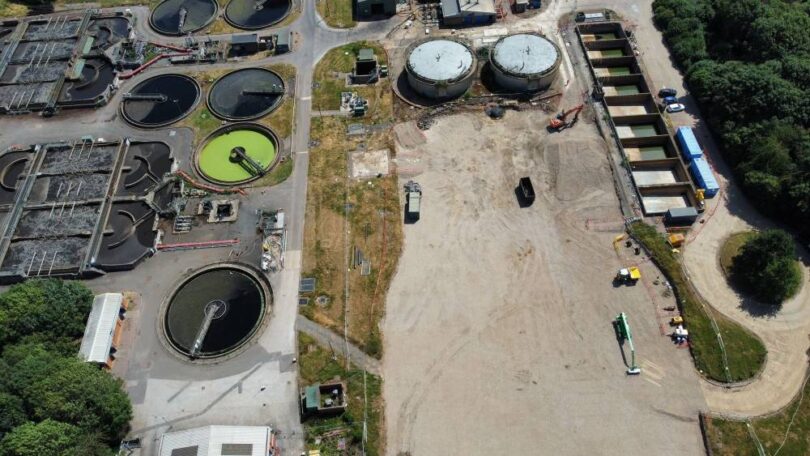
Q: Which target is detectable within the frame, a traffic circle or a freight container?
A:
freight container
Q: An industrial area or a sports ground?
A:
industrial area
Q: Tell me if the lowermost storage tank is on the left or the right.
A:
left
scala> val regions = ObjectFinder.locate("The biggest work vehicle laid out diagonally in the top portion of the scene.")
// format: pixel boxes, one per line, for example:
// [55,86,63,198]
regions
[545,107,580,133]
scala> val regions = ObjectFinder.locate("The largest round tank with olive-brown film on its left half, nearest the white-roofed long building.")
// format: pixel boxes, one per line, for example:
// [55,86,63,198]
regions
[158,262,271,362]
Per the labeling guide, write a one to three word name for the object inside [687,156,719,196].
shipping container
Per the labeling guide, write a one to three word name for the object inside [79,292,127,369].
building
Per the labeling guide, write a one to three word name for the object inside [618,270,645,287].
vehicle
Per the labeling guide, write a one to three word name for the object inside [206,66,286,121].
storage tank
